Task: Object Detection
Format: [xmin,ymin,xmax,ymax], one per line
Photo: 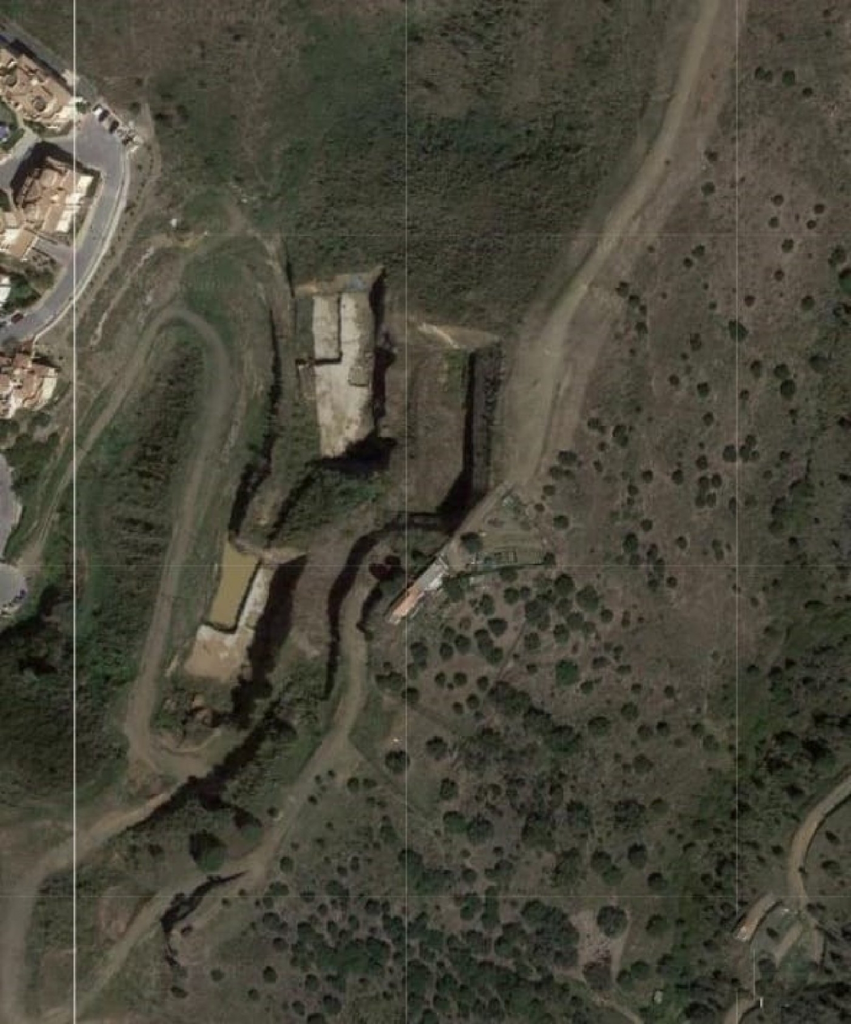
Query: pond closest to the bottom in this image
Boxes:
[211,540,259,629]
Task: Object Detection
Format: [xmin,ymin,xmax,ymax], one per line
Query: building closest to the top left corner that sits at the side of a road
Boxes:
[0,48,83,132]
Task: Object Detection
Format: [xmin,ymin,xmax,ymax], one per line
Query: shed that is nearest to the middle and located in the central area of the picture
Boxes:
[389,557,449,625]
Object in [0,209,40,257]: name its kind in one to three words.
house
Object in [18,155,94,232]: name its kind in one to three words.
house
